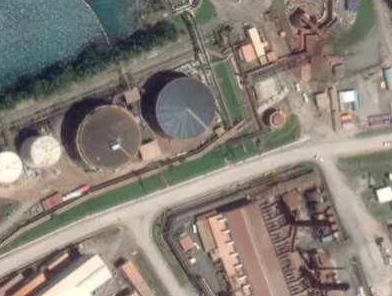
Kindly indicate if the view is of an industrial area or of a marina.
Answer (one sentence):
This looks like an industrial area.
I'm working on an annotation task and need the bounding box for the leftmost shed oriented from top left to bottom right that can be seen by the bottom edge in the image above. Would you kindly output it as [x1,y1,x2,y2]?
[120,260,154,296]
